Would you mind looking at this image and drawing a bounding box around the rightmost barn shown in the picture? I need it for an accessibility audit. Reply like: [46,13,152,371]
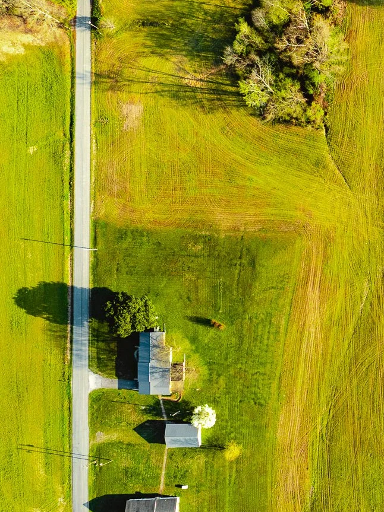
[163,423,202,447]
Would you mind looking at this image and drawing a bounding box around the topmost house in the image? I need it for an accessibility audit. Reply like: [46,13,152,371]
[134,325,172,396]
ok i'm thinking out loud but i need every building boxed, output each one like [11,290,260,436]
[134,325,172,396]
[163,423,202,447]
[125,495,182,512]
